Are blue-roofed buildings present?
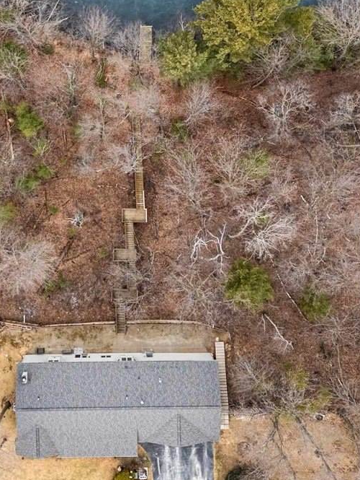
No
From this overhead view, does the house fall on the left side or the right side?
left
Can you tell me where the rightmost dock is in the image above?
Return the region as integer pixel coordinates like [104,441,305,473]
[140,26,152,63]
